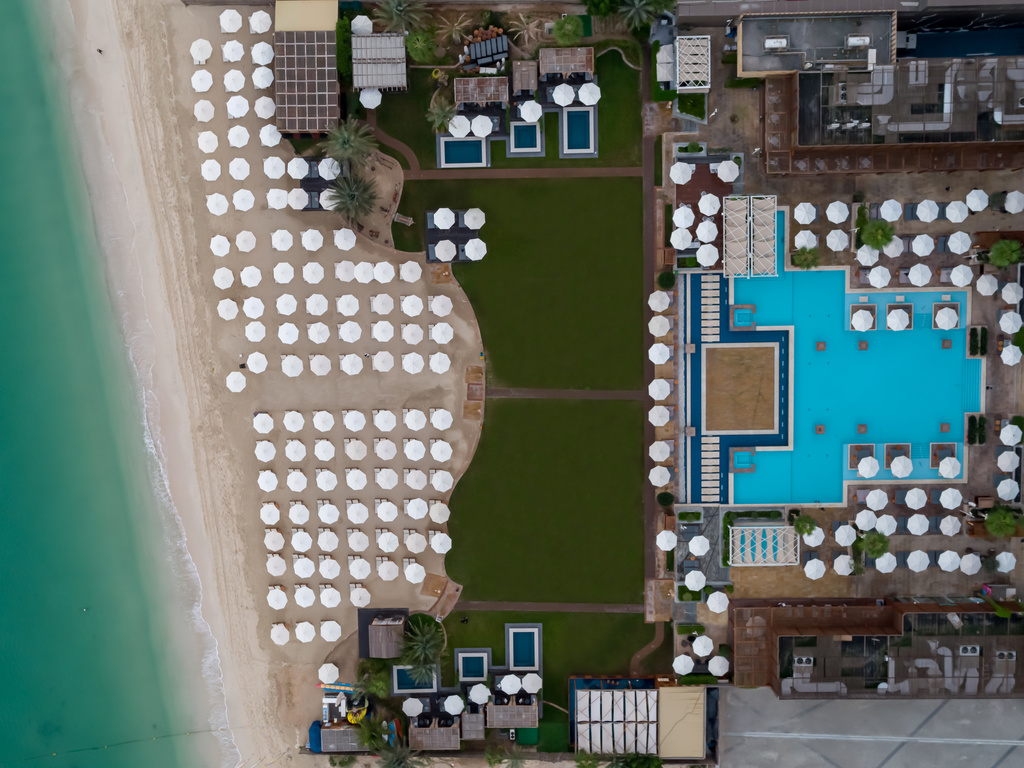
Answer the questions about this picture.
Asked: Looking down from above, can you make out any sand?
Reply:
Yes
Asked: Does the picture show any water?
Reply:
Yes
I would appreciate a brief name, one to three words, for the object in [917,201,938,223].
umbrella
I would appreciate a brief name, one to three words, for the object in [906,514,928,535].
umbrella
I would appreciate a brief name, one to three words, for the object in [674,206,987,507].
swimming pool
